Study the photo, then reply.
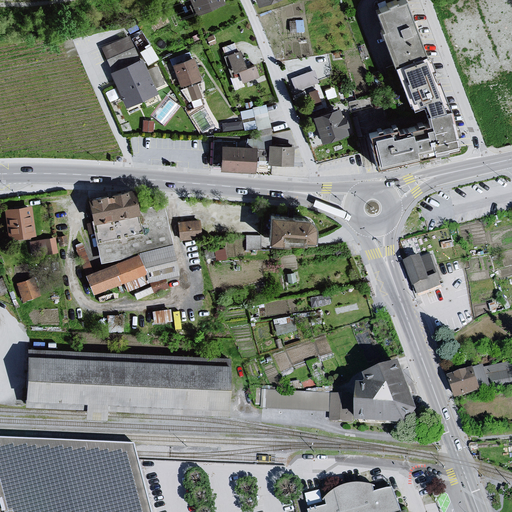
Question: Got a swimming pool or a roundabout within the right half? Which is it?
roundabout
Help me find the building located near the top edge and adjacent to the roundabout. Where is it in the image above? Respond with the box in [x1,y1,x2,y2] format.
[368,0,460,172]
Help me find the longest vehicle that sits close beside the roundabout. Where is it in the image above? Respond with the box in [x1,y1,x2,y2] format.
[312,200,352,222]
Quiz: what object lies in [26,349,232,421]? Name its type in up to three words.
building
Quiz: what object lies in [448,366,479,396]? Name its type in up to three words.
house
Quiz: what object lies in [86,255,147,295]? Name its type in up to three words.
barn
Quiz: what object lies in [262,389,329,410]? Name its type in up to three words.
shed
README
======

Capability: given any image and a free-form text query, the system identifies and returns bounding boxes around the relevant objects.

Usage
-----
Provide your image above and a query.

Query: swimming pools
[151,96,180,126]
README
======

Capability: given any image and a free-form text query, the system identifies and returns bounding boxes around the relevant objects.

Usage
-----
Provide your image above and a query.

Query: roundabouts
[344,178,402,236]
